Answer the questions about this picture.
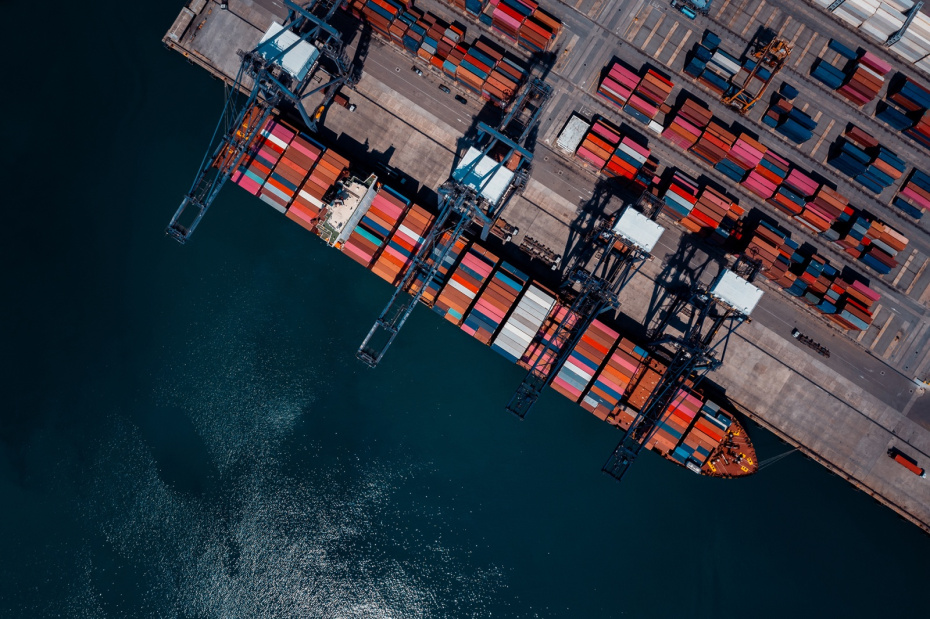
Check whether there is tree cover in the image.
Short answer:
No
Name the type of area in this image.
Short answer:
port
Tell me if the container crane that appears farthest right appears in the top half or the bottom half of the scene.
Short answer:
top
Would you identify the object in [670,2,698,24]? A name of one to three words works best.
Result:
truck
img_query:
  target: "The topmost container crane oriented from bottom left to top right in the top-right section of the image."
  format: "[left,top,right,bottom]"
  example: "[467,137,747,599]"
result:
[723,34,796,113]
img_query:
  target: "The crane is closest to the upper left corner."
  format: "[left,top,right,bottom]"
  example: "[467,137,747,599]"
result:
[163,0,367,249]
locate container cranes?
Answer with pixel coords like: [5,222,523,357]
[723,34,796,113]
[505,186,669,418]
[163,0,367,249]
[354,77,554,369]
[599,250,768,479]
